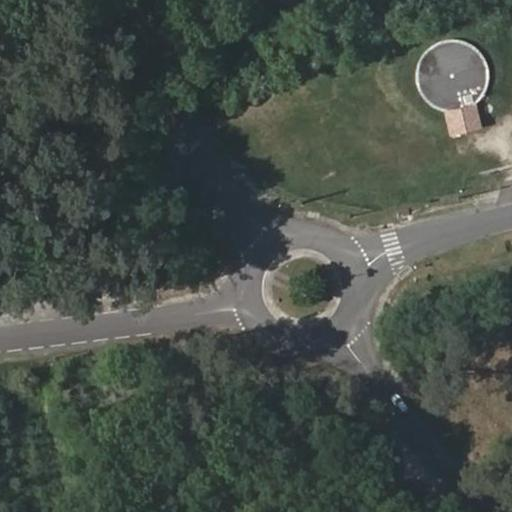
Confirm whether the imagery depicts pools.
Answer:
No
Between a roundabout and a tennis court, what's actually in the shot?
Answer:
roundabout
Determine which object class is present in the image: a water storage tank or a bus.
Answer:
water storage tank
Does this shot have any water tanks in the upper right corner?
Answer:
Yes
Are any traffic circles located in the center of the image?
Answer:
Yes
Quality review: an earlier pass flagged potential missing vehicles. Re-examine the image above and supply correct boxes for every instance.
[392,394,409,414]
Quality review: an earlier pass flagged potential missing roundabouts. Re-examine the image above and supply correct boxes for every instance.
[228,207,388,361]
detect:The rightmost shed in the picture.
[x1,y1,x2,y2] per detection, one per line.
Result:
[447,103,482,136]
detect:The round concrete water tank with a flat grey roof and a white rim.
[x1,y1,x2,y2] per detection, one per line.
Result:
[416,38,490,112]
